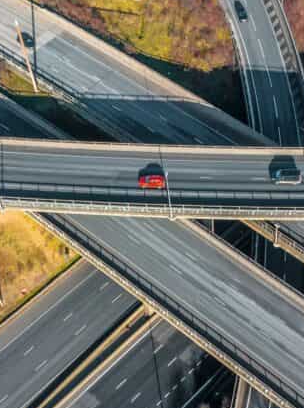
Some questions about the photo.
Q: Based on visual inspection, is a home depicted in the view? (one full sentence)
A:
No, the frame has no home in it.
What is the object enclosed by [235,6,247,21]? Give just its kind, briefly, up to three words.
vehicle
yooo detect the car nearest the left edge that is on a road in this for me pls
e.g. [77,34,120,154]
[17,35,36,50]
